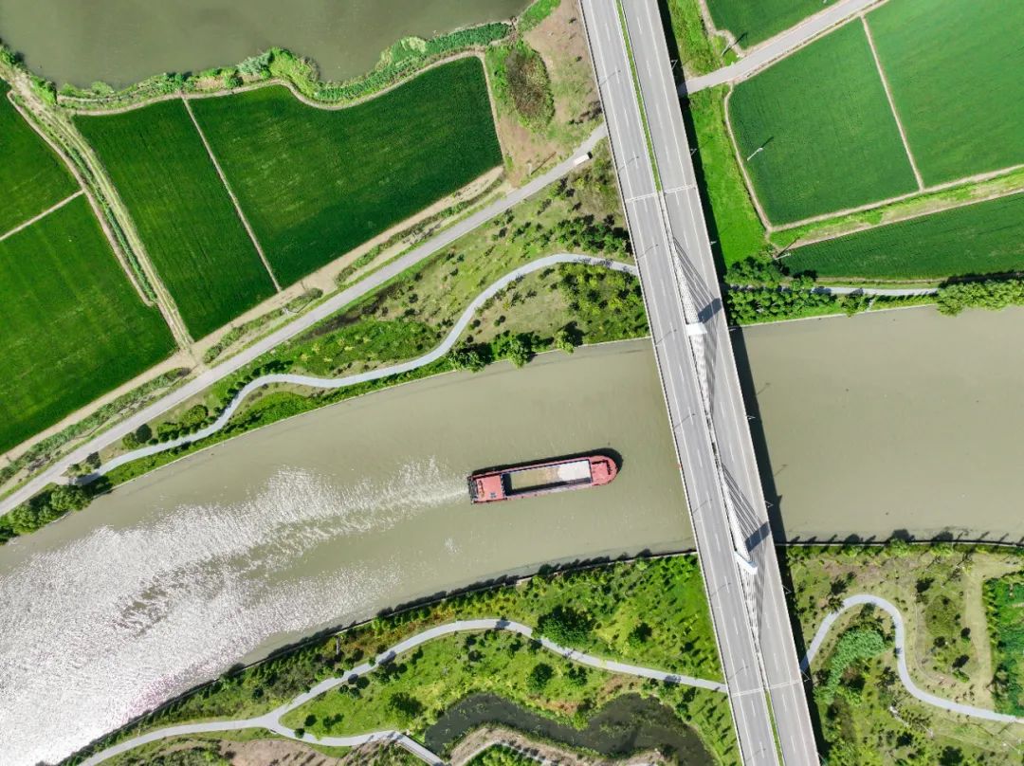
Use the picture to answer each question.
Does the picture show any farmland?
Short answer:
Yes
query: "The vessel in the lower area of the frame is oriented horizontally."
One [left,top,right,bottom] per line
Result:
[467,459,620,507]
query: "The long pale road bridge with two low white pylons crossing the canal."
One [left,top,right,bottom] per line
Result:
[579,0,821,766]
